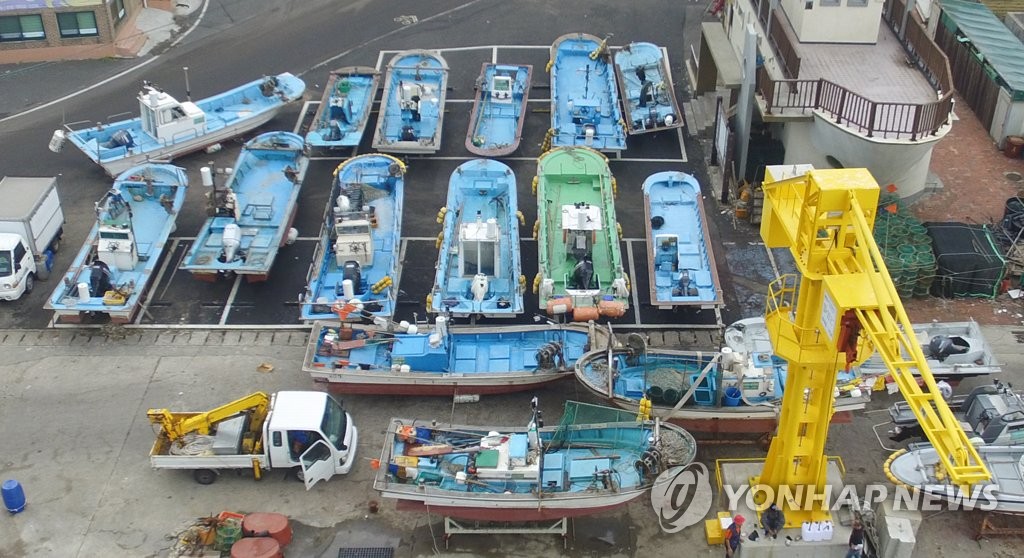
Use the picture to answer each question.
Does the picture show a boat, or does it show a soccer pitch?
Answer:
boat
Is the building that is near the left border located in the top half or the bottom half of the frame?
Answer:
top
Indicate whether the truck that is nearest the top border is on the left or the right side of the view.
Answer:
left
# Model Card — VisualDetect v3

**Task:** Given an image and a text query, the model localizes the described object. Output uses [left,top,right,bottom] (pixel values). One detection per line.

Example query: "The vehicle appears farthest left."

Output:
[0,177,69,302]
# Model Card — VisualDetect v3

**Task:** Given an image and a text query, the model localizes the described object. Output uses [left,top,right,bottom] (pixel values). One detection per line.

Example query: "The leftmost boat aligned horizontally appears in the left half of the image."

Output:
[69,59,302,174]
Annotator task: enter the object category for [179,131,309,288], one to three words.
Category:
boat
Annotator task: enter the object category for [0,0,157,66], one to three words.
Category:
building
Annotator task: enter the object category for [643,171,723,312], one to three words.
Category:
boat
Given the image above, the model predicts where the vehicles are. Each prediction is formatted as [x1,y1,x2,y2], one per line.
[145,385,360,497]
[0,177,69,302]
